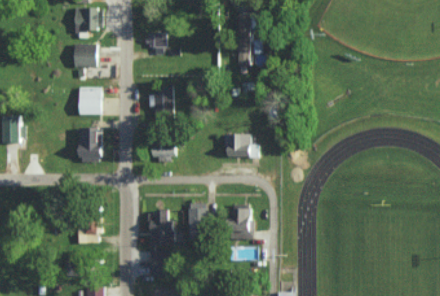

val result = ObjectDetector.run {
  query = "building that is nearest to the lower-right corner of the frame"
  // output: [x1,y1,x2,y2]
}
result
[228,206,256,240]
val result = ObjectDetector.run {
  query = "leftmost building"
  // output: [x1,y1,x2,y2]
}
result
[2,116,27,145]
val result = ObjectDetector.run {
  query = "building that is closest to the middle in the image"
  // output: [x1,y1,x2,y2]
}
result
[224,134,260,159]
